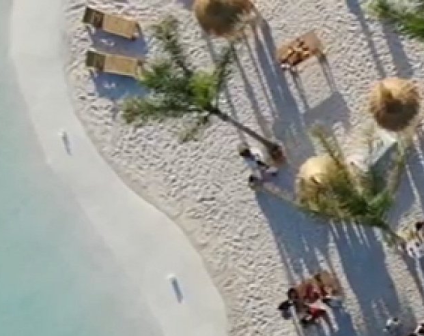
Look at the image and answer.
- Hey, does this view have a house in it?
No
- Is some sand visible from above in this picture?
Yes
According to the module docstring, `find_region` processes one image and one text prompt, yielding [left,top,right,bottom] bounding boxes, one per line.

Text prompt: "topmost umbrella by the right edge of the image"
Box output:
[368,79,423,133]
